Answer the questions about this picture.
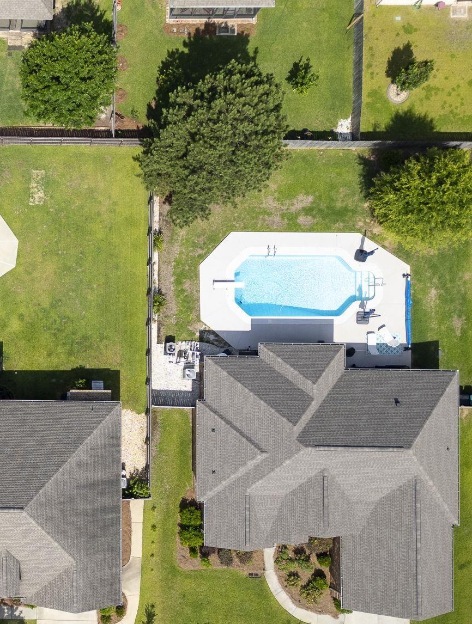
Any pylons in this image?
No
